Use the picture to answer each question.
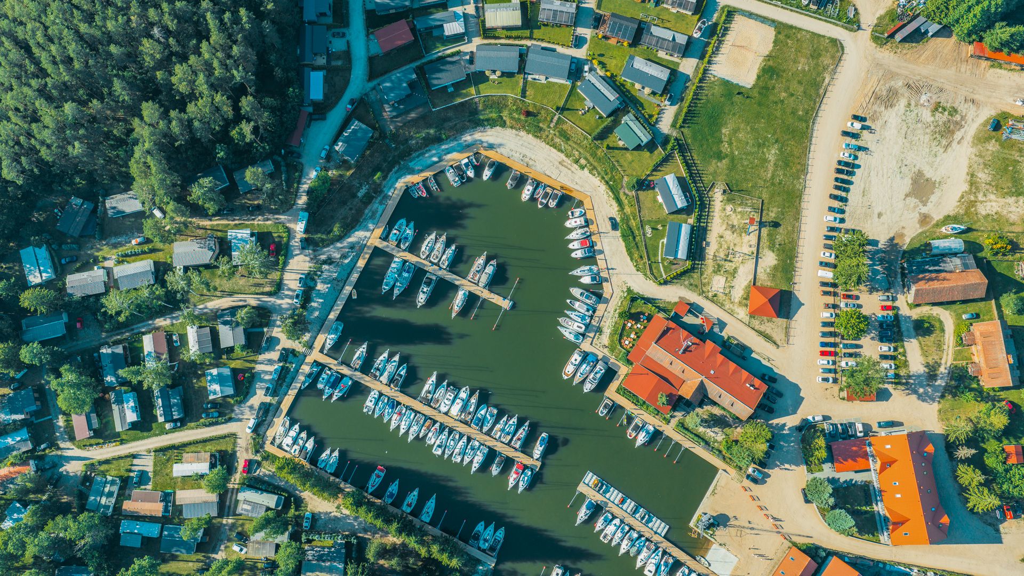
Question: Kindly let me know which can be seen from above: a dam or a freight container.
freight container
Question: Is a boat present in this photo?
Yes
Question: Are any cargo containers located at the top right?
Yes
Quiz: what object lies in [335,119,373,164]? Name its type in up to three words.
house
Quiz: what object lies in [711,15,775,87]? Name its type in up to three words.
sports court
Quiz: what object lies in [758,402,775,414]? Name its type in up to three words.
vehicle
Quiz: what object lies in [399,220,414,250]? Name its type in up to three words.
boat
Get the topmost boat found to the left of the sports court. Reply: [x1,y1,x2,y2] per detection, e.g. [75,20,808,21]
[690,18,707,39]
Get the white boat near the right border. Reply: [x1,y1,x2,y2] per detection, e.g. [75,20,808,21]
[939,218,981,235]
